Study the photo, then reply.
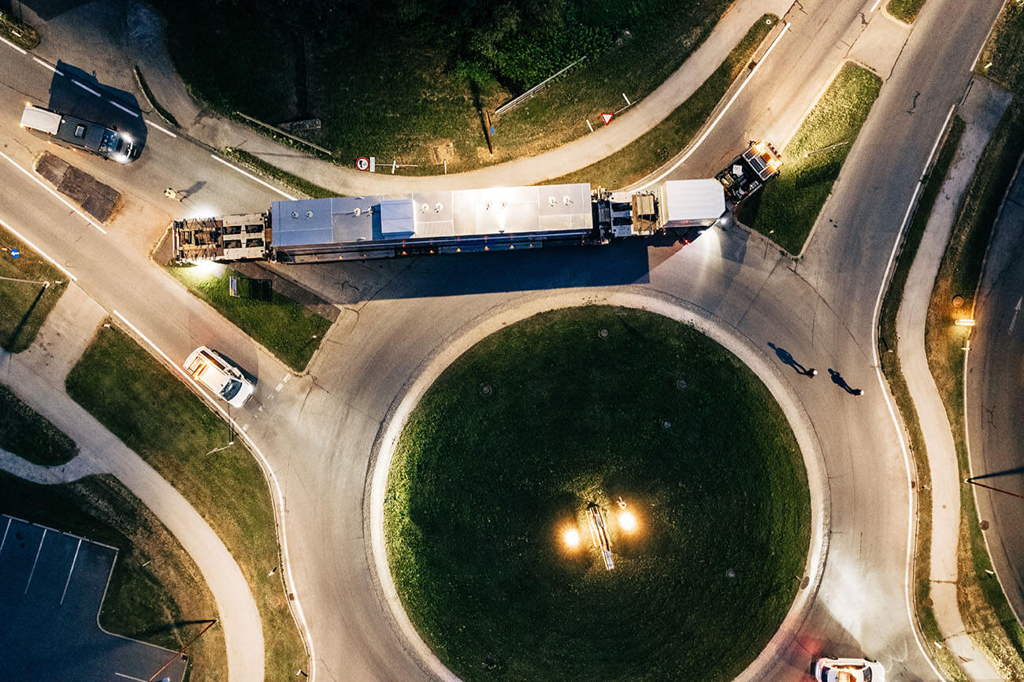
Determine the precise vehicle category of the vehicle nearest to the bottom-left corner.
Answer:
car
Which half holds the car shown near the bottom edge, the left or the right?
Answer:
right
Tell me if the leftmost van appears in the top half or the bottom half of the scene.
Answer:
top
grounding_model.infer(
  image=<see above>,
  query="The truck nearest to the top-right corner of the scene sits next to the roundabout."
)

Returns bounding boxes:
[713,127,799,213]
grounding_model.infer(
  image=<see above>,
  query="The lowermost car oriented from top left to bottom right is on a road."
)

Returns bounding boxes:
[185,346,251,405]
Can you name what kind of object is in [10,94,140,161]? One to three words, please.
van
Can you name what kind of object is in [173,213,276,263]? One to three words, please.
trailer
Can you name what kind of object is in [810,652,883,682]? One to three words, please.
car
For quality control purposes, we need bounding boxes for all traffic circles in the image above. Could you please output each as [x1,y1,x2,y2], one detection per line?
[284,206,910,682]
